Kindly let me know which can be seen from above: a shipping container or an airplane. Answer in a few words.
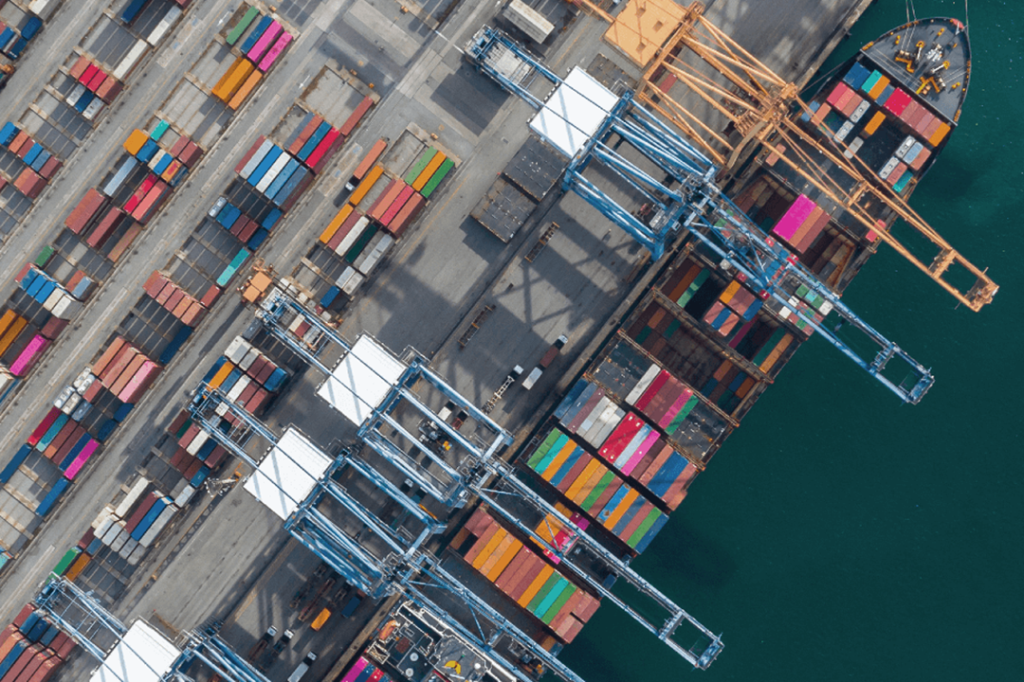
shipping container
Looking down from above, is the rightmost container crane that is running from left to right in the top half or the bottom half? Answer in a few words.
bottom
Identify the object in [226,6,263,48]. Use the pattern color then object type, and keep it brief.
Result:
green shipping container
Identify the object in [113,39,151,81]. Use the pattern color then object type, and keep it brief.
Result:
white shipping container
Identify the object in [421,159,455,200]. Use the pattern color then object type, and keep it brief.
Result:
green shipping container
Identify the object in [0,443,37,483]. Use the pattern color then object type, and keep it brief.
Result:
blue shipping container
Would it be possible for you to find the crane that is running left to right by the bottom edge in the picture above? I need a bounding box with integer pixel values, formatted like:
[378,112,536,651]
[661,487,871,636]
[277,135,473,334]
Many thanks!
[24,560,337,682]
